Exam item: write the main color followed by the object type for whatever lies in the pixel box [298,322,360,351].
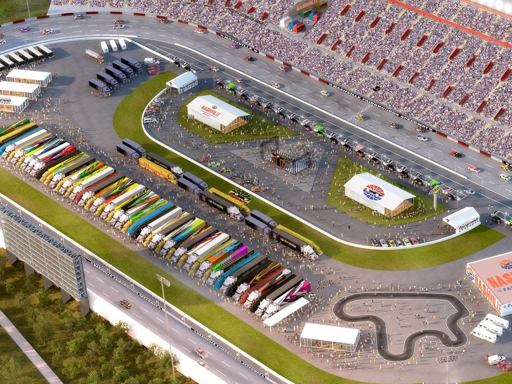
white tent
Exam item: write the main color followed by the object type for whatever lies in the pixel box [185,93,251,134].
white tent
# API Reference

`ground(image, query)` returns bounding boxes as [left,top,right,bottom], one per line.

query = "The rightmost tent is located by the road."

[443,204,482,233]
